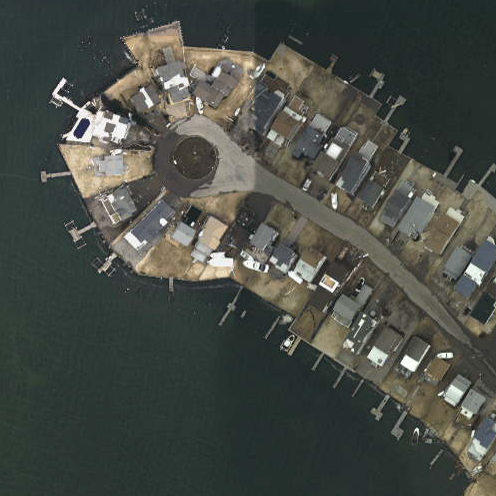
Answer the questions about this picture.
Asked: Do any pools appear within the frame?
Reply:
Yes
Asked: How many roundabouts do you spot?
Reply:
1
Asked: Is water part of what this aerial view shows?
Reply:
Yes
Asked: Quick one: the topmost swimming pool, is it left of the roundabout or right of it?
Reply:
left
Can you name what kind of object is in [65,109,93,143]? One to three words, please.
swimming pool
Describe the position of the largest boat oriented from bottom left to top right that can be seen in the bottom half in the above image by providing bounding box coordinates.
[281,335,293,352]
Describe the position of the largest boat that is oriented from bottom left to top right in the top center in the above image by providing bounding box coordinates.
[250,63,264,79]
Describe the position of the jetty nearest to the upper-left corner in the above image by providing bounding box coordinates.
[49,77,96,112]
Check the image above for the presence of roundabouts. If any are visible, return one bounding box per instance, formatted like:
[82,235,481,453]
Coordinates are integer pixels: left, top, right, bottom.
[153,115,256,198]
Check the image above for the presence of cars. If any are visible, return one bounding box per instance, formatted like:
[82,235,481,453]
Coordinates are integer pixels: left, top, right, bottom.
[316,190,328,201]
[462,306,472,316]
[303,179,312,192]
